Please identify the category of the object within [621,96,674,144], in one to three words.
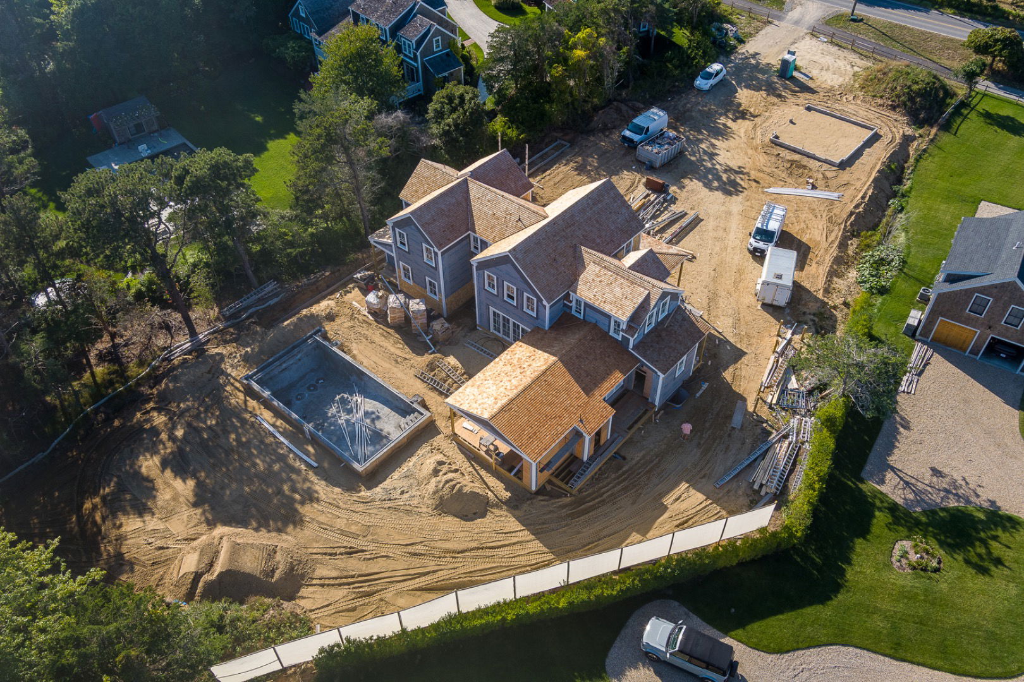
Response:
van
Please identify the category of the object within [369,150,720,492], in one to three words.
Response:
house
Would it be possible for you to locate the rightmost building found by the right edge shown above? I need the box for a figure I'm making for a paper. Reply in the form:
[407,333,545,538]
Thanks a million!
[916,215,1024,376]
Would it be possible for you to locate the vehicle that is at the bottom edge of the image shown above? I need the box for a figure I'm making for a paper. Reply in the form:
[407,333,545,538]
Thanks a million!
[636,610,740,682]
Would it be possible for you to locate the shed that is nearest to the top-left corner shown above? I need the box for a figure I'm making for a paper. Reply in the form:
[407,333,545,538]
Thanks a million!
[98,95,160,143]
